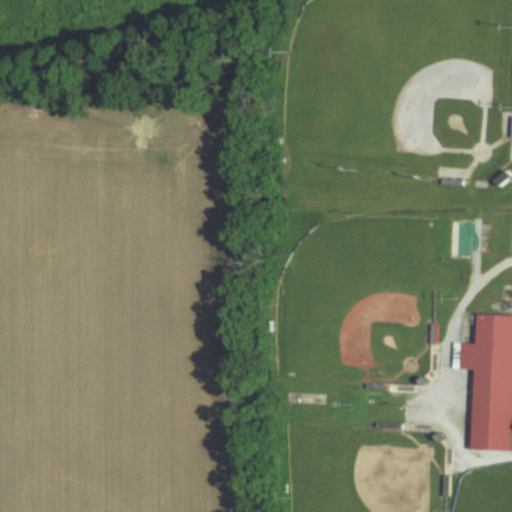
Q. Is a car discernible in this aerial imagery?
No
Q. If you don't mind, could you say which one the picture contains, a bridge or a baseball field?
baseball field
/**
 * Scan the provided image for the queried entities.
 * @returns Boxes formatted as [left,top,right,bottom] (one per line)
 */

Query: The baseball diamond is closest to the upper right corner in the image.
[284,0,512,180]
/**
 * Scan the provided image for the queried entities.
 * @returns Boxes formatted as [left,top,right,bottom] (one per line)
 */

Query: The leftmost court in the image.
[452,220,479,258]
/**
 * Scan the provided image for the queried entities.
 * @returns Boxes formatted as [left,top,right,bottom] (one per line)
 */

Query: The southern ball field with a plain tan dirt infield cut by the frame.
[288,418,444,512]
